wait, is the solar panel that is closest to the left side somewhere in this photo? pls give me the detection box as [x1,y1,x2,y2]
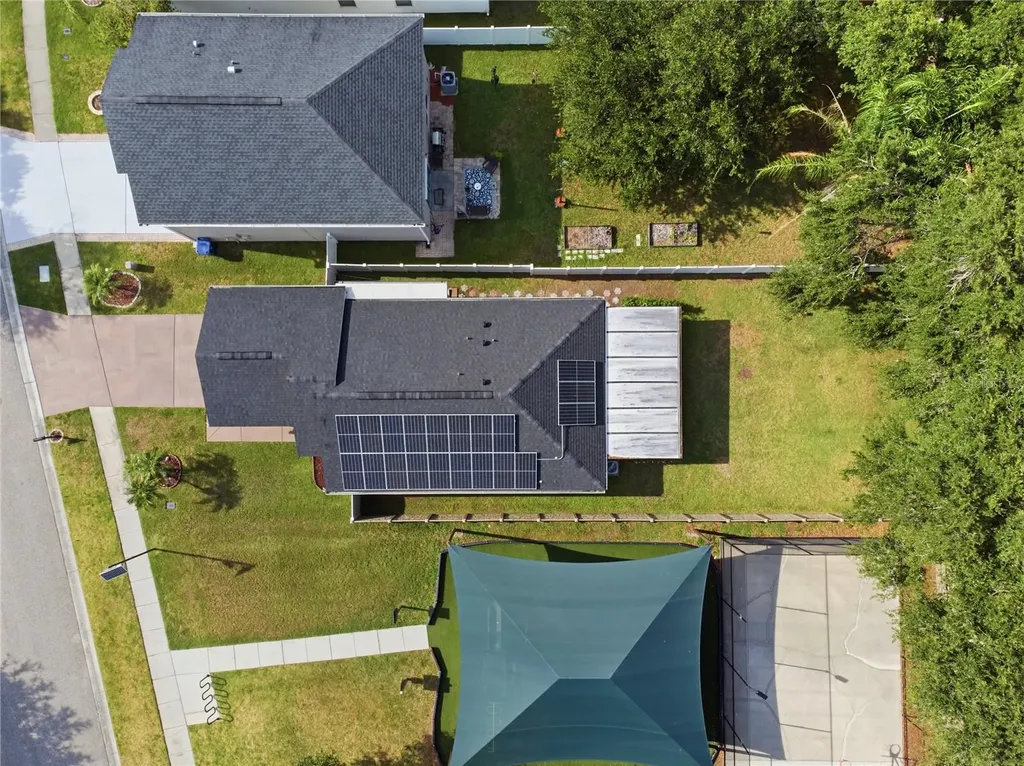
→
[97,563,127,583]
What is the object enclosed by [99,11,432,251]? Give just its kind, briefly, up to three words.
house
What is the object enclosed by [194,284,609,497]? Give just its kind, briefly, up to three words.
house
